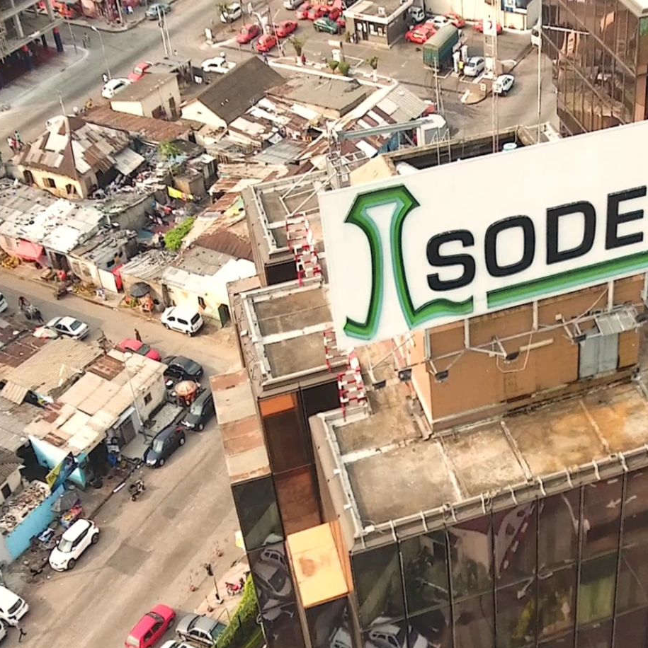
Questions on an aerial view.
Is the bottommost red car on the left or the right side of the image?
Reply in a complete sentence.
The bottommost red car is on the left side of the image.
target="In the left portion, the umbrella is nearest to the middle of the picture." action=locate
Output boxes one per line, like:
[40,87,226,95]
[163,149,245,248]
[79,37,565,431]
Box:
[172,382,199,402]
